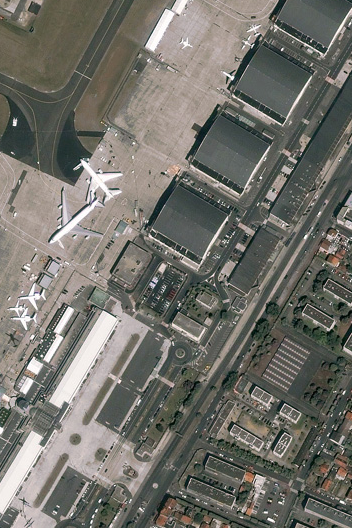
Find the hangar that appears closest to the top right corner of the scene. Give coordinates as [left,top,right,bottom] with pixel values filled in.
[273,0,352,57]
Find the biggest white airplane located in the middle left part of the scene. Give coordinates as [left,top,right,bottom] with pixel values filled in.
[50,188,106,243]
